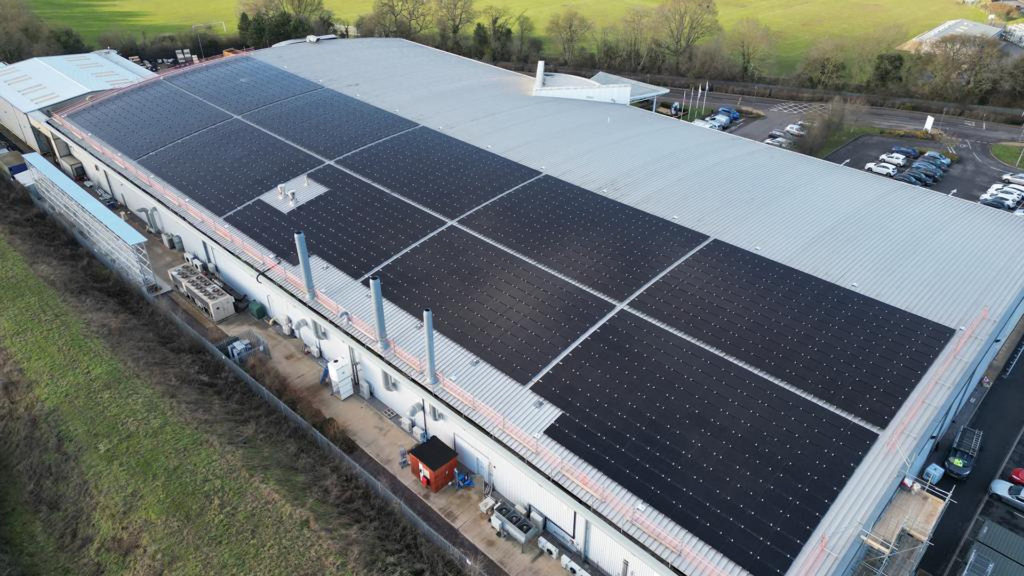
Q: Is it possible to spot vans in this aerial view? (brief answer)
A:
Yes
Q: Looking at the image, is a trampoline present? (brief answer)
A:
No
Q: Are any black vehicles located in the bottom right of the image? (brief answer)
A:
Yes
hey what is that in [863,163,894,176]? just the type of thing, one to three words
vehicle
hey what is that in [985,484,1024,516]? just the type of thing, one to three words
car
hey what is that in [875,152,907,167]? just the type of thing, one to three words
car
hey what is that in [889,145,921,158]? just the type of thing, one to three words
vehicle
